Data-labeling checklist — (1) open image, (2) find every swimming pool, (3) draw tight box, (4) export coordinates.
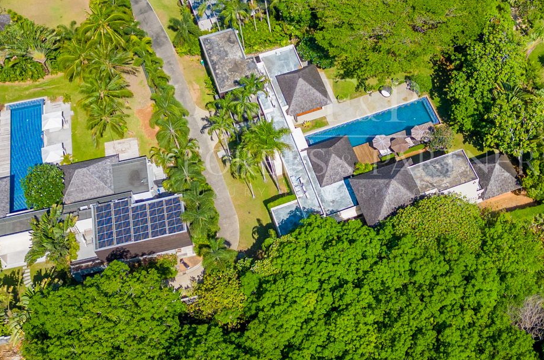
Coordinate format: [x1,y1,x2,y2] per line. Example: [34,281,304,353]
[7,96,50,214]
[303,94,449,155]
